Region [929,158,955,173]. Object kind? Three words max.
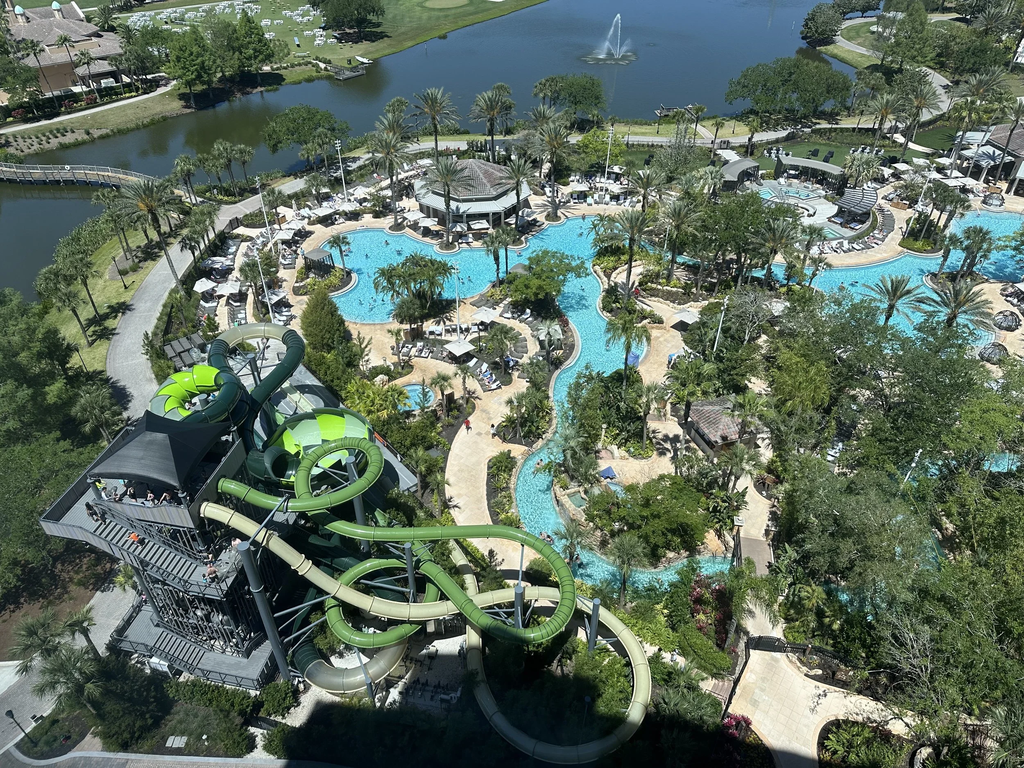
umbrella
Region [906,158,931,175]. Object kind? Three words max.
umbrella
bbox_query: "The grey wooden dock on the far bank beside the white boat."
[326,59,368,86]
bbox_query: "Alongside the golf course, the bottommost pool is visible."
[322,213,1024,612]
